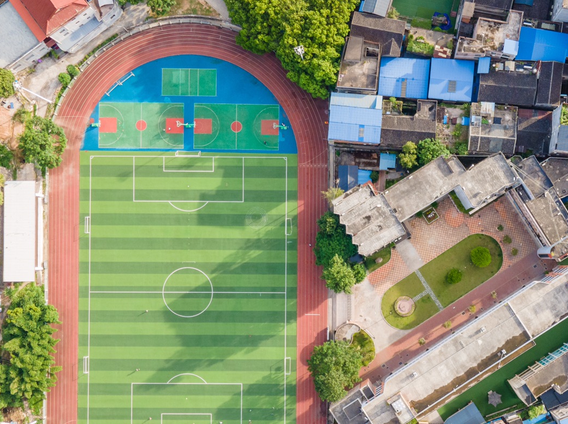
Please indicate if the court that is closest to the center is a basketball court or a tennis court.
basketball court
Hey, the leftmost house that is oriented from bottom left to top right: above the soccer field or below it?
above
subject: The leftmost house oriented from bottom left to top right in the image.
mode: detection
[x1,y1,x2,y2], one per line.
[54,9,124,55]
